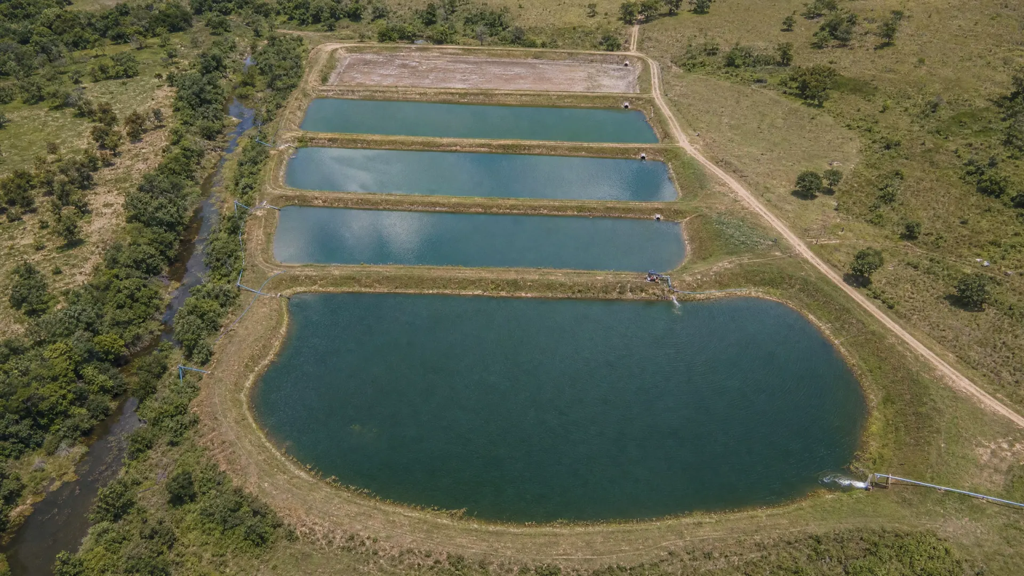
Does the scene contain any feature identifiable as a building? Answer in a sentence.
No, the scene contains no building.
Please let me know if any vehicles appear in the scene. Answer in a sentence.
No, the picture doesn't show any vehicle.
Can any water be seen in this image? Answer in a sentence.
Yes, there's water in this view.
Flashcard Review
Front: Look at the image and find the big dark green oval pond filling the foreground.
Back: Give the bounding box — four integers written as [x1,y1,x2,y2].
[254,293,867,524]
